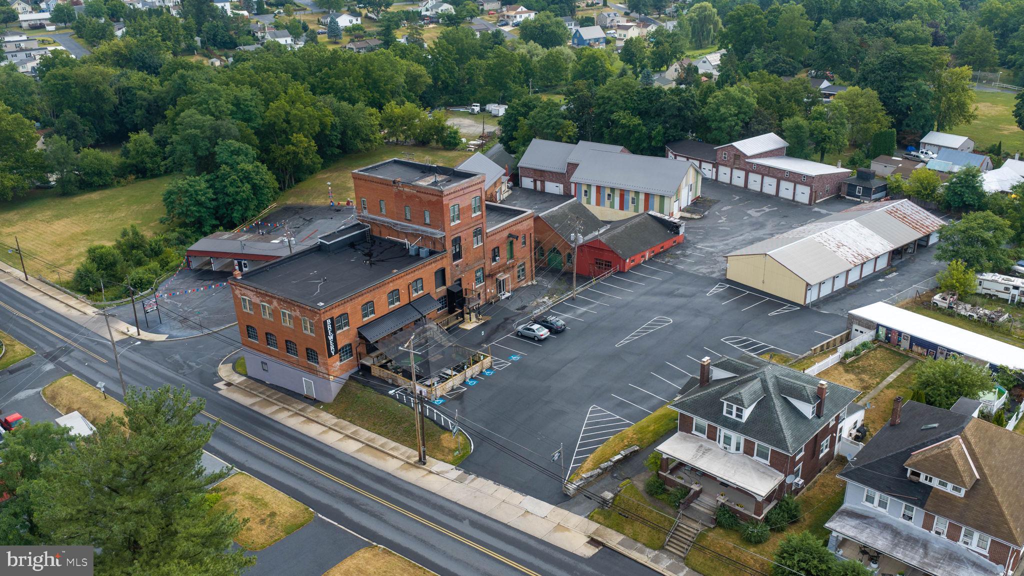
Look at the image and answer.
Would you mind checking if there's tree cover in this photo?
Yes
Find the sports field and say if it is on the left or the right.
right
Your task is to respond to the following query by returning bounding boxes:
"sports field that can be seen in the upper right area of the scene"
[956,91,1024,163]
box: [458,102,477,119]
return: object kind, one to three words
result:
vehicle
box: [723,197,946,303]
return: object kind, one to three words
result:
building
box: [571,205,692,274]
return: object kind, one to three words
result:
barn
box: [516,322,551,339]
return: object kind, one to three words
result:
car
